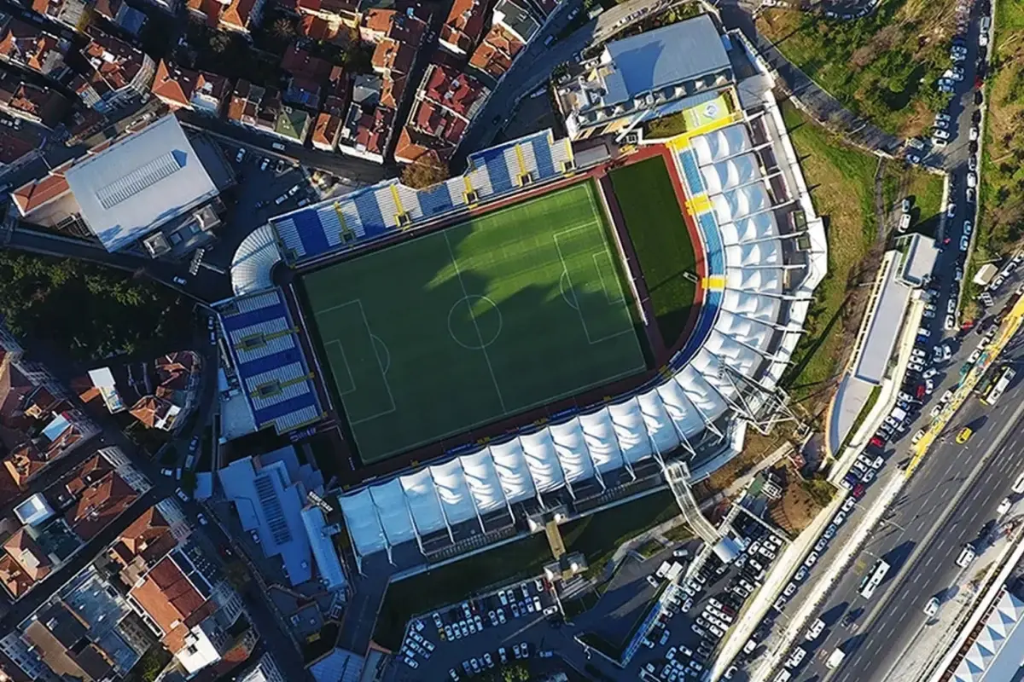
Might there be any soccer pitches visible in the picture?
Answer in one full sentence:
Yes, the photo shows a soccer pitch.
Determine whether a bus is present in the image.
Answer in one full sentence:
Yes, a bus is visible in the scene.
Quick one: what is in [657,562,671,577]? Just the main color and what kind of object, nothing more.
white vehicle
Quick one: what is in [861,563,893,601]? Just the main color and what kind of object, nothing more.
white bus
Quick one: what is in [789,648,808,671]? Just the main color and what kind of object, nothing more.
white vehicle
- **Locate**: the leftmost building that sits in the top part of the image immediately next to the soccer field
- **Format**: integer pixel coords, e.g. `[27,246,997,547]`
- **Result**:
[65,113,238,264]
